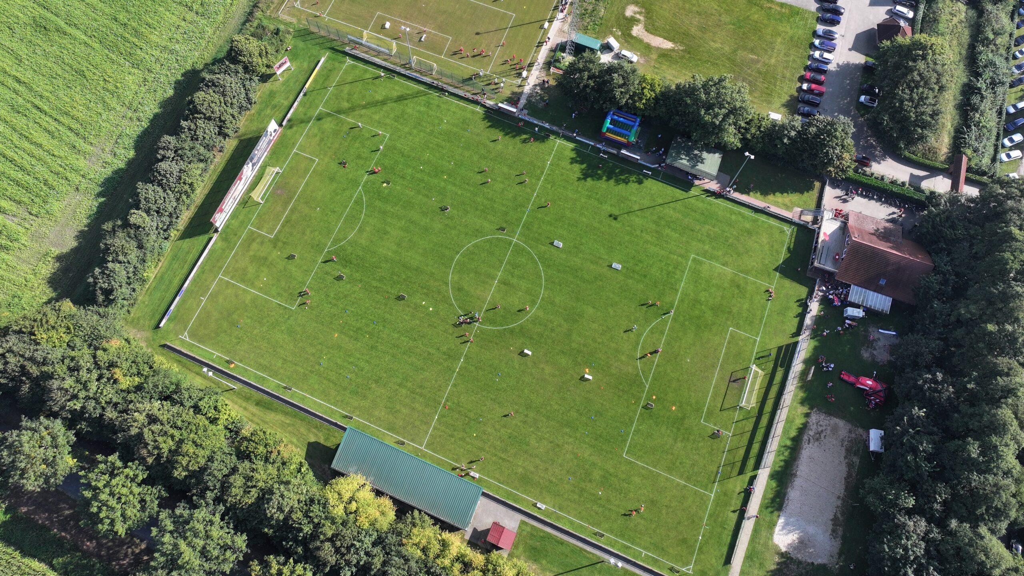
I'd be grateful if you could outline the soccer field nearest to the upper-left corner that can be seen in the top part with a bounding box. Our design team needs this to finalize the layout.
[282,0,559,99]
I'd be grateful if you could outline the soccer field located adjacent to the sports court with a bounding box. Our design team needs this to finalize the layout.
[157,47,815,576]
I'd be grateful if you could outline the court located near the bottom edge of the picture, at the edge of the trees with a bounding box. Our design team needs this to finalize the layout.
[760,398,875,576]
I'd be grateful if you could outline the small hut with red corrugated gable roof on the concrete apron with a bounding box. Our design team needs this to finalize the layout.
[486,522,517,552]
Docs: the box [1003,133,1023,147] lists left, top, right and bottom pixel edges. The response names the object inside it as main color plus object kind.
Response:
white car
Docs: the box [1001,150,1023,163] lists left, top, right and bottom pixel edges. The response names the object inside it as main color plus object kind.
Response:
white vehicle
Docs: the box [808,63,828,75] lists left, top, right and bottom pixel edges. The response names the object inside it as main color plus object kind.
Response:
blue vehicle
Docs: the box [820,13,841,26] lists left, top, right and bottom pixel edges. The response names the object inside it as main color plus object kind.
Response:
blue vehicle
